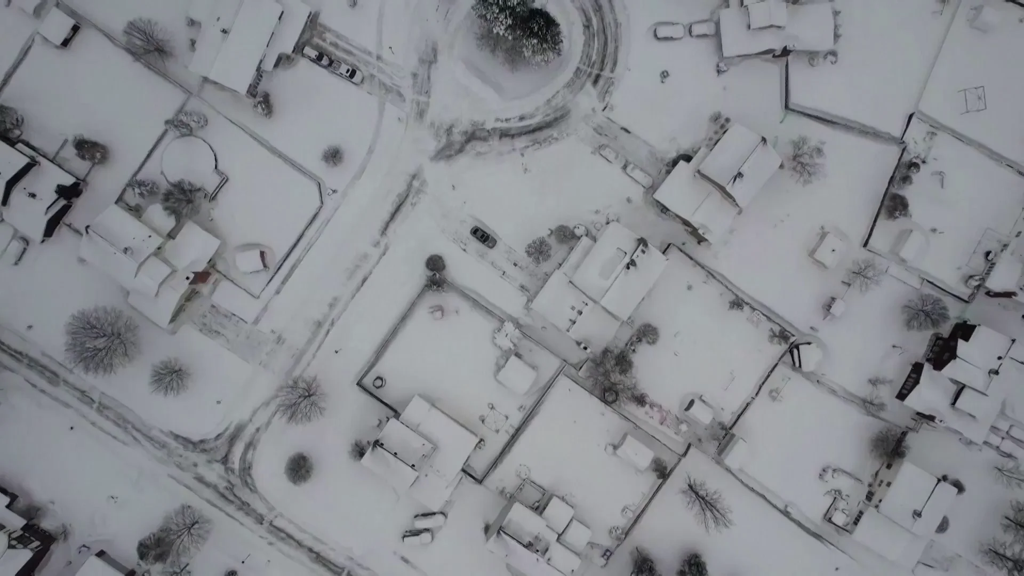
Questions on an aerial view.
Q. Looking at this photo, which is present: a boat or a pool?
pool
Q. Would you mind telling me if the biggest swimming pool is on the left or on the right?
left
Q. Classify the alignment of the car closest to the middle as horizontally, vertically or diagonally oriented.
diagonally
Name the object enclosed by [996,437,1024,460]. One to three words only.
car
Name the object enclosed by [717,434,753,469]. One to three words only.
shed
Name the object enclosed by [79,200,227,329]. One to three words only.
house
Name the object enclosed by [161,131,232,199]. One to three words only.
swimming pool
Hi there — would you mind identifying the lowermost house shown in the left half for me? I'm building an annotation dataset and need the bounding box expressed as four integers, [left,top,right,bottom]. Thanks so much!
[73,546,140,576]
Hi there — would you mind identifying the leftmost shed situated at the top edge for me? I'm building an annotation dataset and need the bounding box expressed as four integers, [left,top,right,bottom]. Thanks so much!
[37,6,85,50]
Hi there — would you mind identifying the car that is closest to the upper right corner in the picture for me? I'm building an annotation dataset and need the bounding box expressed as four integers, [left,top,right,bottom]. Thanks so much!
[690,19,718,35]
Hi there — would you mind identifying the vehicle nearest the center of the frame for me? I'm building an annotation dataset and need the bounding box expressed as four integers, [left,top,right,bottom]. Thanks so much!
[469,224,497,249]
